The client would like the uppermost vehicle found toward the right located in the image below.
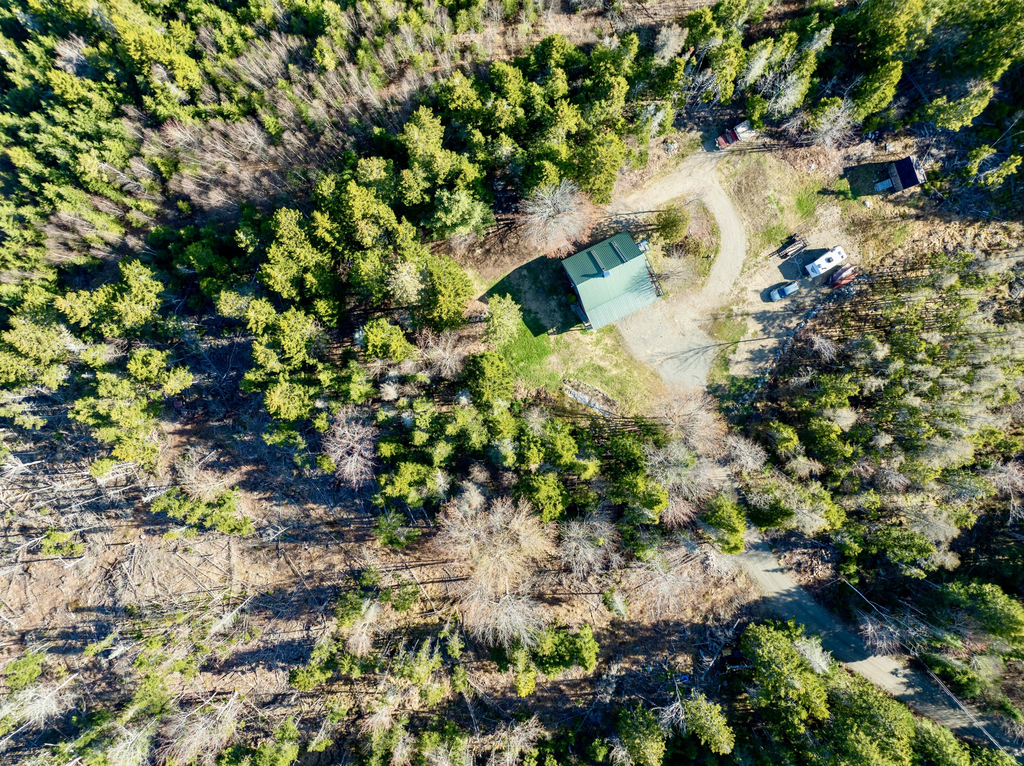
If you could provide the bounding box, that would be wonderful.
[714,121,755,150]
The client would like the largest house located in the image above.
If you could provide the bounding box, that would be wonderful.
[561,231,665,334]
